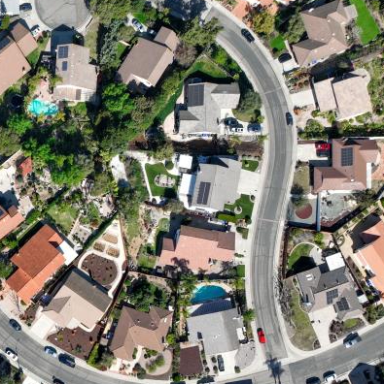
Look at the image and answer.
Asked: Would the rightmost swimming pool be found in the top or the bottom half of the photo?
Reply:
bottom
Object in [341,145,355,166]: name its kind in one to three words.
solar panel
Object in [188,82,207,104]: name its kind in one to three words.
solar panel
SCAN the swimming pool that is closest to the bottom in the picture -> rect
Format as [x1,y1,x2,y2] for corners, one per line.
[191,284,229,305]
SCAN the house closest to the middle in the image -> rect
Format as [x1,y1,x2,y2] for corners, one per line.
[176,154,241,215]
